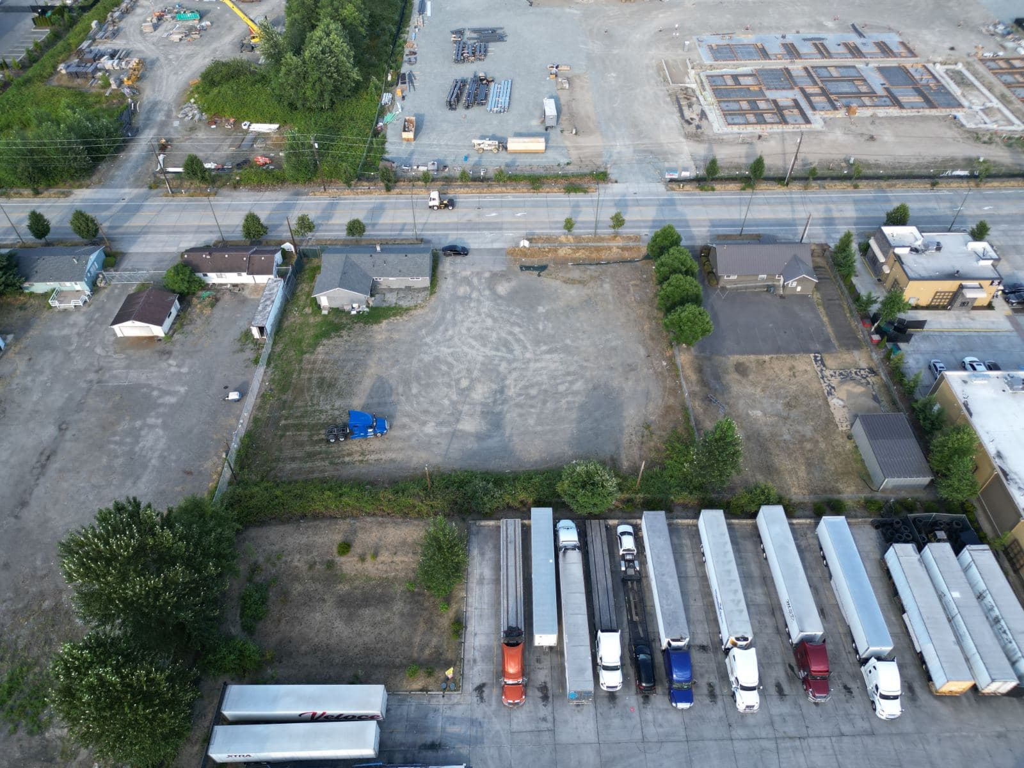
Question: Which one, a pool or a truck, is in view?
truck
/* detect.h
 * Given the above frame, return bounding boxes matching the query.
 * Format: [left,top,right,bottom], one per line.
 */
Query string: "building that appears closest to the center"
[311,245,433,314]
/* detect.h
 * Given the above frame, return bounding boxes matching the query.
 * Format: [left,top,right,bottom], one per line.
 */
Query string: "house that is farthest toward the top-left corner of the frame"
[0,246,108,306]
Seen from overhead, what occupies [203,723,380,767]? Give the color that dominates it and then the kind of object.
white trailer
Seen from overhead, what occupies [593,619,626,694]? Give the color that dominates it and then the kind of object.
white truck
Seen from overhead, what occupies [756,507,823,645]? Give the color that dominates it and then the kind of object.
white trailer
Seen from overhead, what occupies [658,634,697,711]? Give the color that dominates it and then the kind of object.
blue truck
